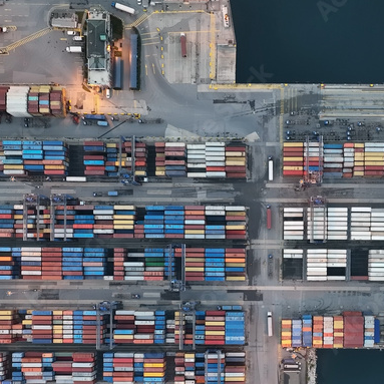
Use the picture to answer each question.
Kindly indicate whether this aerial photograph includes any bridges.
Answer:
No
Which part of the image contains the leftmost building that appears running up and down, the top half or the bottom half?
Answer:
top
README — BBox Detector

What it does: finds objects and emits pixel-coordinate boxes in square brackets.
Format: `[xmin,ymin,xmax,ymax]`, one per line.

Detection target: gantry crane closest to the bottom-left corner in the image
[98,300,133,349]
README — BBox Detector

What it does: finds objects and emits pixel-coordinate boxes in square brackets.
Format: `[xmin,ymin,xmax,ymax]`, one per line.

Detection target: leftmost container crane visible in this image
[24,195,52,242]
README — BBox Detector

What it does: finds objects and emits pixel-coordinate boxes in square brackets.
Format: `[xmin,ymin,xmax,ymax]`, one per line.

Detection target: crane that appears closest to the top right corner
[302,137,332,189]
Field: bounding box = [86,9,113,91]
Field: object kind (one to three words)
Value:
building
